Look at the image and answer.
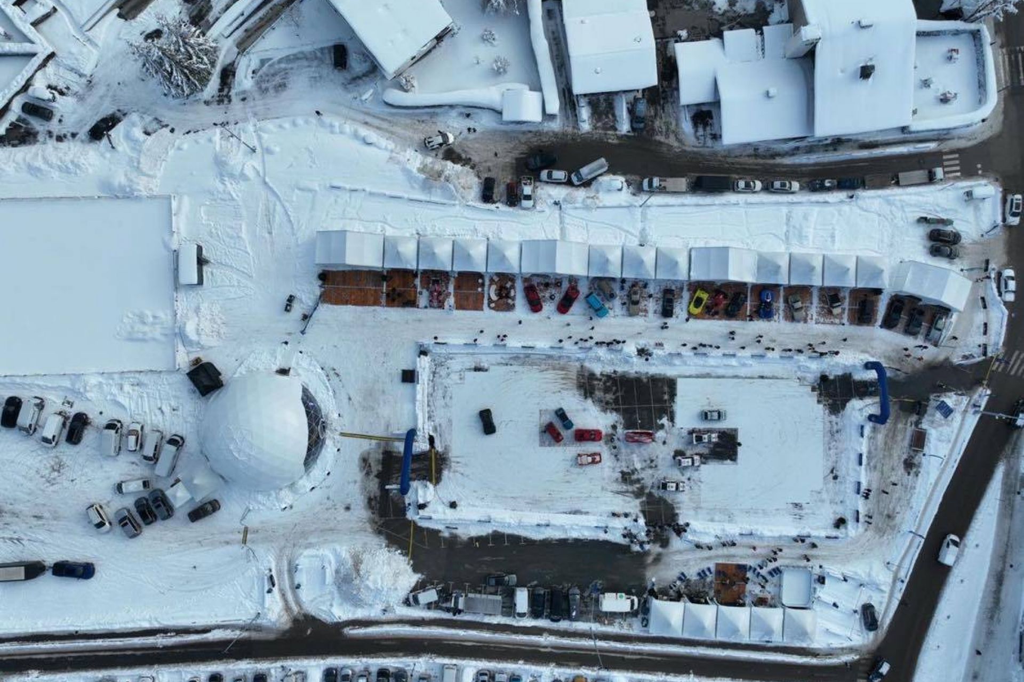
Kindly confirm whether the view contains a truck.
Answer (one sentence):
Yes, the frame does contain a truck.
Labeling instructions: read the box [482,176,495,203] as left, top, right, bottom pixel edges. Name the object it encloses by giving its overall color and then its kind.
black vehicle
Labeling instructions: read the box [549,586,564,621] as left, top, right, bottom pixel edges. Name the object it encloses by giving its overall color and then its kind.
black vehicle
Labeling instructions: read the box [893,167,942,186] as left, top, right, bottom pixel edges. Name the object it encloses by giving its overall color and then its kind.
gray vehicle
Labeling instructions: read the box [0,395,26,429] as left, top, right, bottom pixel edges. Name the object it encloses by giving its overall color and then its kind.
black car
